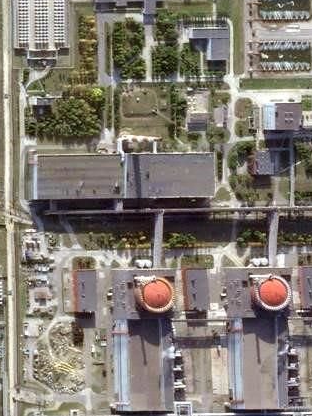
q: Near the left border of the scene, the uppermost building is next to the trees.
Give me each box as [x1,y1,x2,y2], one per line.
[11,0,69,46]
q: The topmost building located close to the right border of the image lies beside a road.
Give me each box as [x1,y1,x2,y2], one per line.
[264,102,303,129]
